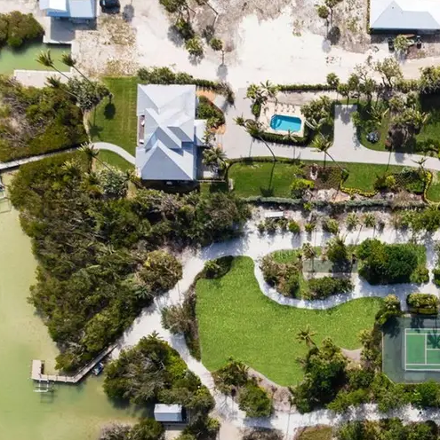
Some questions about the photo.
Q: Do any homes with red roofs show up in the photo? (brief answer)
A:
No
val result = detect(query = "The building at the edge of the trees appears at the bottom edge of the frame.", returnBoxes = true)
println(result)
[154,404,189,424]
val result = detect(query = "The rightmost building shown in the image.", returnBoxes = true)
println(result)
[369,0,440,31]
